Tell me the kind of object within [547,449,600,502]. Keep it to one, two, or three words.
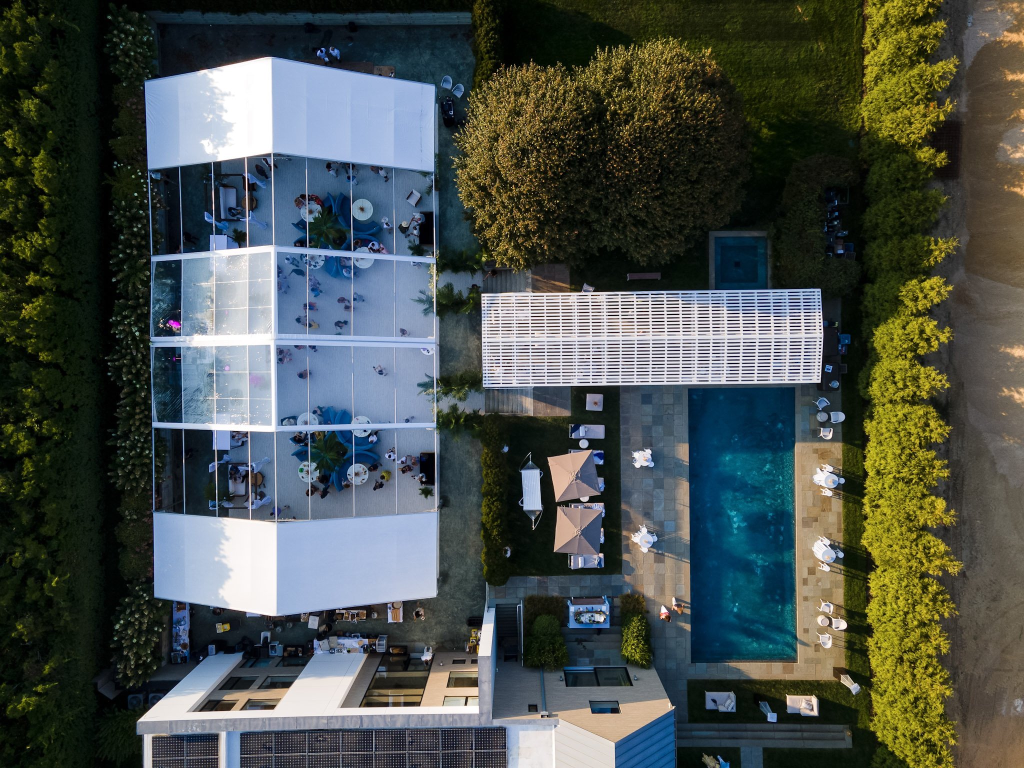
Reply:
umbrella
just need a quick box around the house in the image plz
[136,603,682,768]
